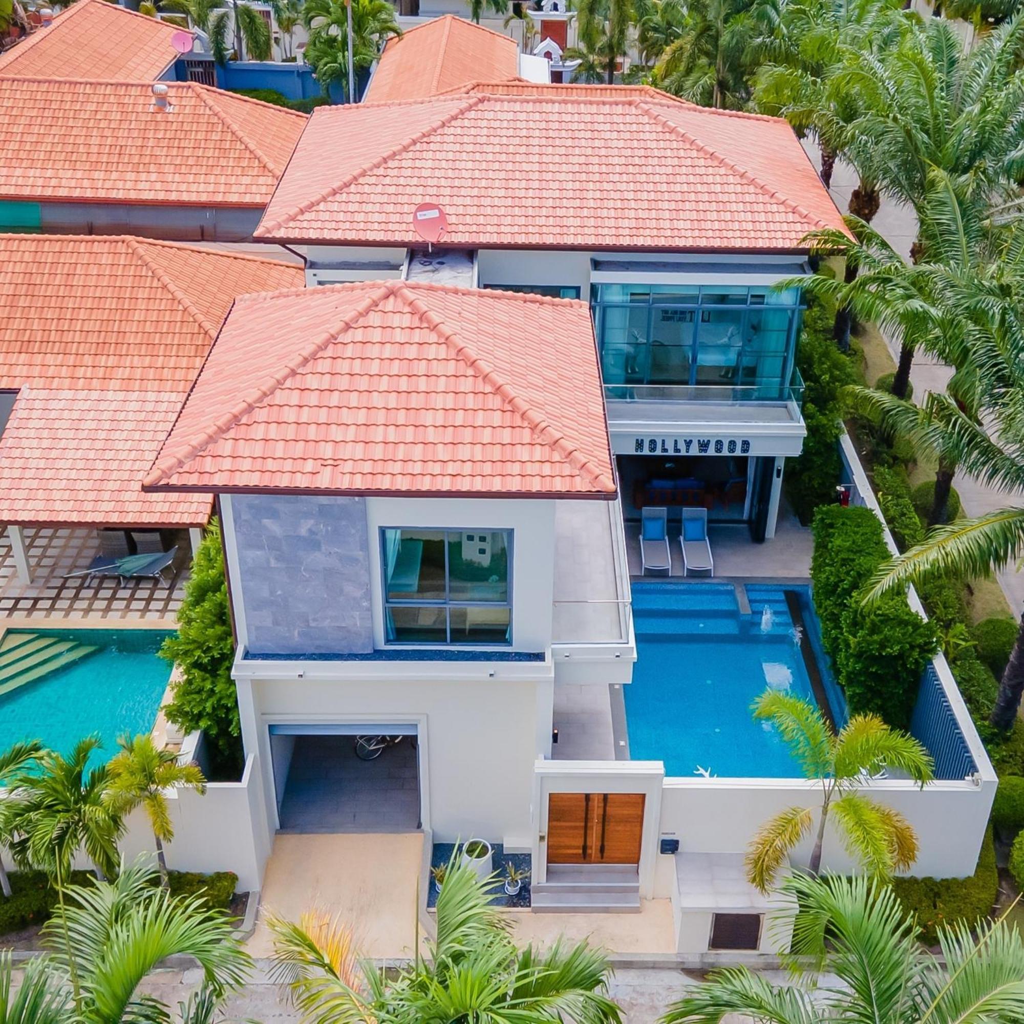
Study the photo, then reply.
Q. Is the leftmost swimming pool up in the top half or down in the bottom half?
bottom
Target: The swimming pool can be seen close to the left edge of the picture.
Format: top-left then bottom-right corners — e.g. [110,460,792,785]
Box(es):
[0,631,168,776]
